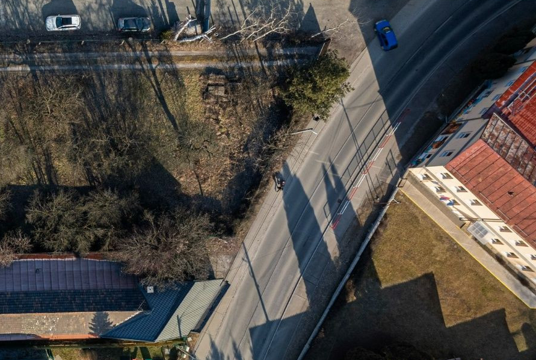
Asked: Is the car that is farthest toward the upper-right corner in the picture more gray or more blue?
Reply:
blue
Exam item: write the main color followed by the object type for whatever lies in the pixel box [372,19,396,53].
blue car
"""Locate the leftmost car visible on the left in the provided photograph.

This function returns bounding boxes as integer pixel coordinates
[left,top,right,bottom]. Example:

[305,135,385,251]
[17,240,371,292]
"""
[45,14,82,33]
